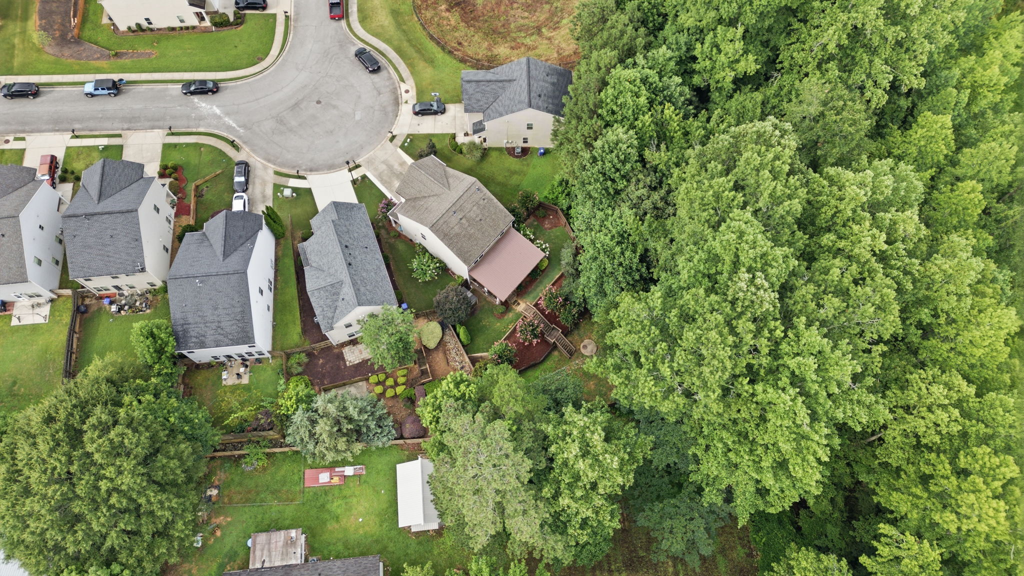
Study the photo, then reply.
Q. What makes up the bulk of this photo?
trees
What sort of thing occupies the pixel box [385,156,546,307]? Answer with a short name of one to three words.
house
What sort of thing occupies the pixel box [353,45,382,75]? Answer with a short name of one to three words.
car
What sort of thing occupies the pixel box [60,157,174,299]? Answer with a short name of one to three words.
house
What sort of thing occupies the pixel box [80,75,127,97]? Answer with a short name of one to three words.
car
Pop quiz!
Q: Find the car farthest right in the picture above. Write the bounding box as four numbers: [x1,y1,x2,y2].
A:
[409,99,446,117]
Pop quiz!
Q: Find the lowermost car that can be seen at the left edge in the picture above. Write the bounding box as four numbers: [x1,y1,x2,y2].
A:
[35,153,62,186]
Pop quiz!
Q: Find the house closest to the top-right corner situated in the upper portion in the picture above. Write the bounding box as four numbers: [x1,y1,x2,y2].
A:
[461,56,574,147]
